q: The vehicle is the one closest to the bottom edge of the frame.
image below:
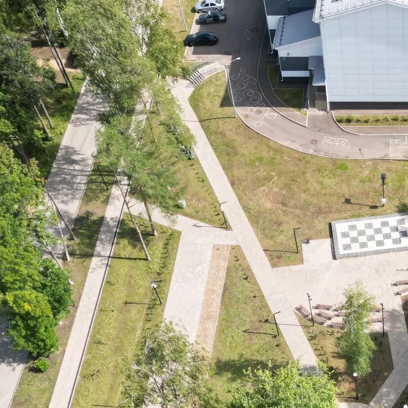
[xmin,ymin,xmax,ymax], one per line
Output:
[183,30,220,48]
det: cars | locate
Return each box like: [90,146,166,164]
[194,0,226,14]
[183,30,220,48]
[196,9,228,25]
